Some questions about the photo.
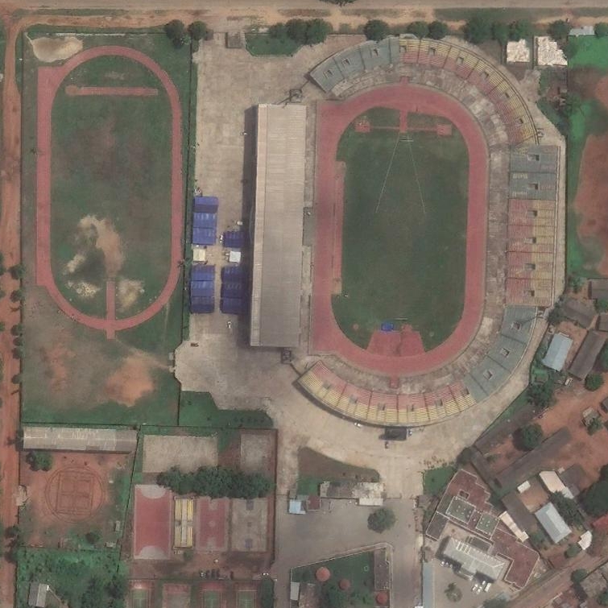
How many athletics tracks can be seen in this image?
2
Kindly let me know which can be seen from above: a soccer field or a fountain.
soccer field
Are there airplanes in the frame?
No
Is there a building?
Yes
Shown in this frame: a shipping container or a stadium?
stadium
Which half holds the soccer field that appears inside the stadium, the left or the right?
right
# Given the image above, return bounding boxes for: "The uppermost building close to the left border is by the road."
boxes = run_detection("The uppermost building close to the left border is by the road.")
[22,427,136,453]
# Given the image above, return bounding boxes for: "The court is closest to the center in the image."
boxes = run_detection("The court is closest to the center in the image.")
[241,434,275,473]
